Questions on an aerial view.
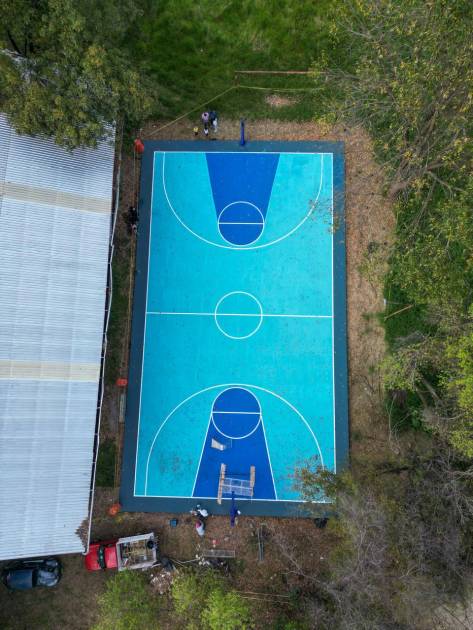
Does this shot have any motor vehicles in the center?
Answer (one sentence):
No, no motor vehicle appears in the center.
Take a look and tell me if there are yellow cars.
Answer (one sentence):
No, no yellow car can be seen from above.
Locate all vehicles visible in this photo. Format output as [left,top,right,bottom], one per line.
[81,532,162,575]
[1,557,63,593]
